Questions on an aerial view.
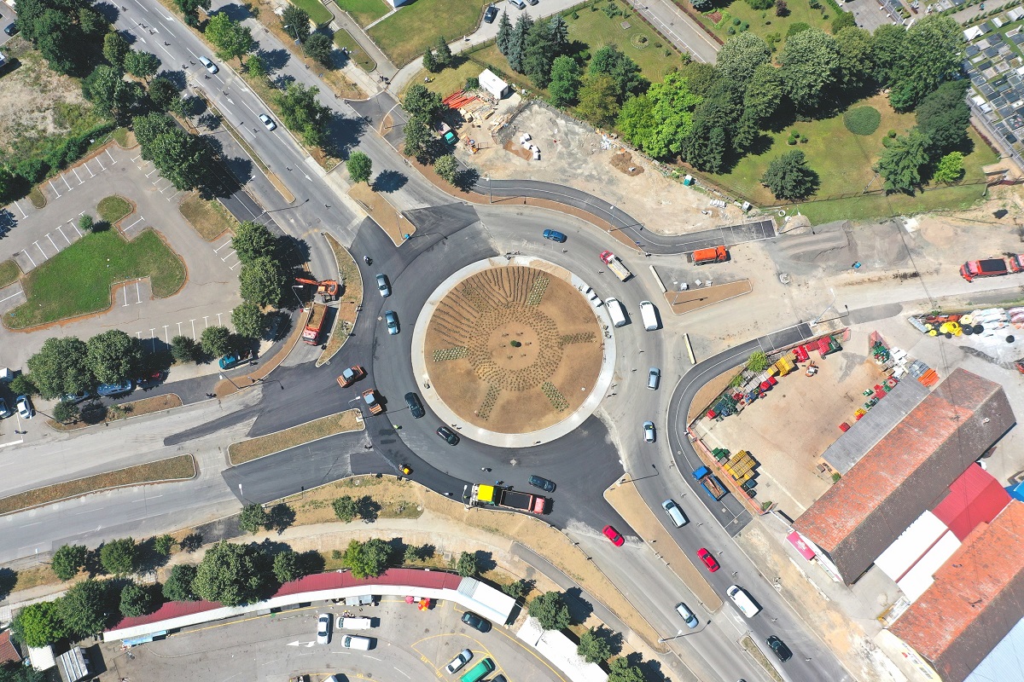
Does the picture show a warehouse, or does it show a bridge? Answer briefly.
warehouse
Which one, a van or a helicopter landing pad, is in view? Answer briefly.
van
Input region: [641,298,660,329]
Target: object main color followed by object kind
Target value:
white vehicle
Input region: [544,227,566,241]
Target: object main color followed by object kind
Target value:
blue car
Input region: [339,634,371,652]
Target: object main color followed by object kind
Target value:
white vehicle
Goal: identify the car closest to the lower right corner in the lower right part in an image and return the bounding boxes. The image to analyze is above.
[767,634,793,665]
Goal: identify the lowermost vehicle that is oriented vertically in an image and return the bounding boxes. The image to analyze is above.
[315,613,330,645]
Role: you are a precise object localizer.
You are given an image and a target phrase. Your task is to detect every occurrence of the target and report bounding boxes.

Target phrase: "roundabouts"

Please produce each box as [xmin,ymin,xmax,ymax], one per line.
[222,201,640,541]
